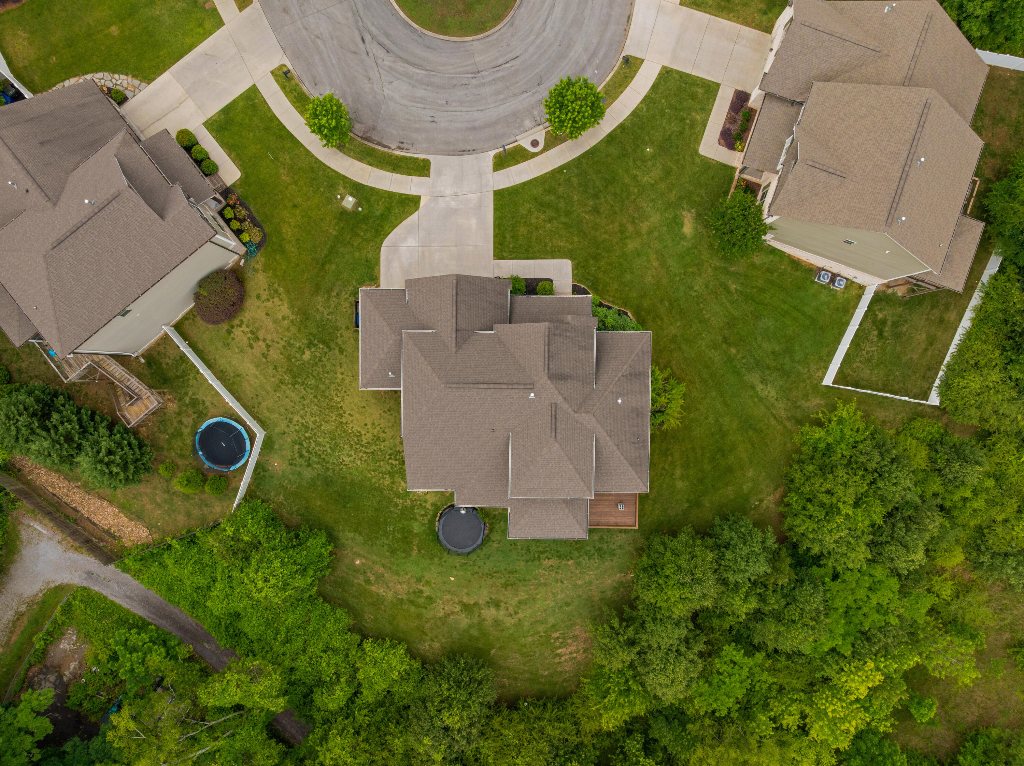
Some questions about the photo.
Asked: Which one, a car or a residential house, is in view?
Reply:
residential house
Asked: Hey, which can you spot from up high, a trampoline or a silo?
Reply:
trampoline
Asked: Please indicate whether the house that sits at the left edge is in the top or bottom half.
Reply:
top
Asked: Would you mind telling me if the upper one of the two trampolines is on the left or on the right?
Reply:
left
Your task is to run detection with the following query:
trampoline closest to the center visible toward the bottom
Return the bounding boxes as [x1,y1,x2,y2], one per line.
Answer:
[437,506,487,557]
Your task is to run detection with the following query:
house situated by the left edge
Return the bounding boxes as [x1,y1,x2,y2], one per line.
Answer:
[0,77,251,361]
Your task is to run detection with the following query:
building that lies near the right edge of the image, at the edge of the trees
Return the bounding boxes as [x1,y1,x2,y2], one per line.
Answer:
[727,0,992,299]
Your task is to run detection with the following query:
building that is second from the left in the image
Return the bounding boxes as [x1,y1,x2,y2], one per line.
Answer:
[357,274,653,541]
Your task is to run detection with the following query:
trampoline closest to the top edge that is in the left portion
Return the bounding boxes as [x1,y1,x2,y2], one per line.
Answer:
[186,417,253,472]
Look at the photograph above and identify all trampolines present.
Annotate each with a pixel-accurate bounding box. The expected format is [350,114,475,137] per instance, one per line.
[186,417,253,472]
[437,506,487,557]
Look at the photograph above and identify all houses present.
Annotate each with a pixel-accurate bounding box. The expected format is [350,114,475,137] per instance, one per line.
[0,77,251,361]
[727,0,992,299]
[357,274,653,541]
